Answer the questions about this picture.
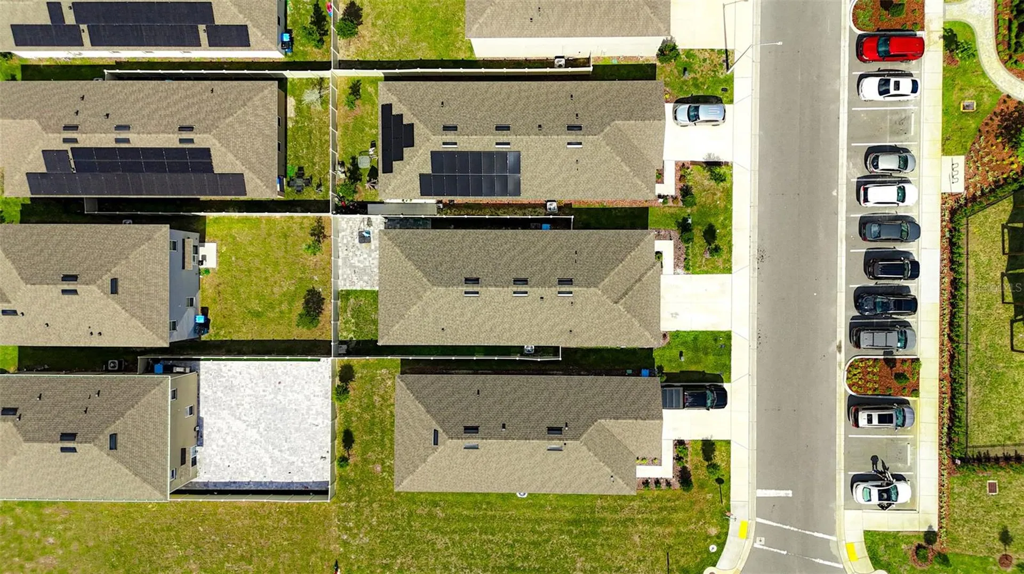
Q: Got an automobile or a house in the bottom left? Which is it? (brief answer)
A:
house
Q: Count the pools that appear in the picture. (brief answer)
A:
0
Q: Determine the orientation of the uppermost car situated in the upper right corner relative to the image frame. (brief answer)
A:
horizontally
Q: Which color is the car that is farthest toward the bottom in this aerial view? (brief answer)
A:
white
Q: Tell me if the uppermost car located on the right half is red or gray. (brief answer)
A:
red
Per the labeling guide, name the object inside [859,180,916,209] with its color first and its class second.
white car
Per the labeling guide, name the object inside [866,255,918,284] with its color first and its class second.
black car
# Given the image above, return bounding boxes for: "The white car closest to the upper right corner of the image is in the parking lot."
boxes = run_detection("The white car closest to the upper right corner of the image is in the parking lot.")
[857,73,916,102]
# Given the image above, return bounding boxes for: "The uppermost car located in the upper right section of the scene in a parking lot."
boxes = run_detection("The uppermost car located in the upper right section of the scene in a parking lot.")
[857,32,924,64]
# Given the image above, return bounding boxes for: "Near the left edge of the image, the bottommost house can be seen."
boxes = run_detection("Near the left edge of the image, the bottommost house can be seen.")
[0,371,202,503]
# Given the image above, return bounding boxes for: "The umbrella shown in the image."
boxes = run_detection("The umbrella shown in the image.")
[364,168,378,190]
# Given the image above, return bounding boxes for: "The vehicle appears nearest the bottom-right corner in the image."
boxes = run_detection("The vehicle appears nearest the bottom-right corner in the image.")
[852,468,909,514]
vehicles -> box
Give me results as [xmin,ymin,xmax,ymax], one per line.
[866,255,918,284]
[856,290,915,320]
[851,324,915,354]
[860,217,918,246]
[859,180,916,209]
[857,73,916,102]
[849,402,913,432]
[857,32,924,64]
[852,468,909,514]
[664,383,727,415]
[673,99,725,128]
[866,148,913,176]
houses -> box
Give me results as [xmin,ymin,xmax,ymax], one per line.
[465,0,671,56]
[0,80,285,198]
[0,0,286,57]
[378,229,662,348]
[0,371,202,503]
[394,375,667,494]
[378,80,669,200]
[0,223,200,348]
